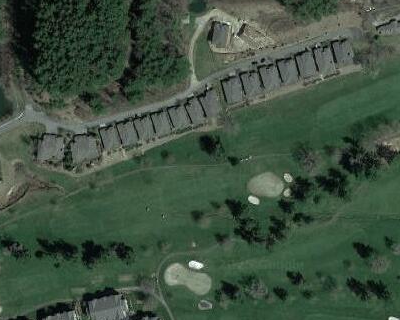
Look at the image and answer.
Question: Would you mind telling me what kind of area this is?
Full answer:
This looks like a golf course.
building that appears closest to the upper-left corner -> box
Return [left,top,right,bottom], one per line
[40,136,65,162]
